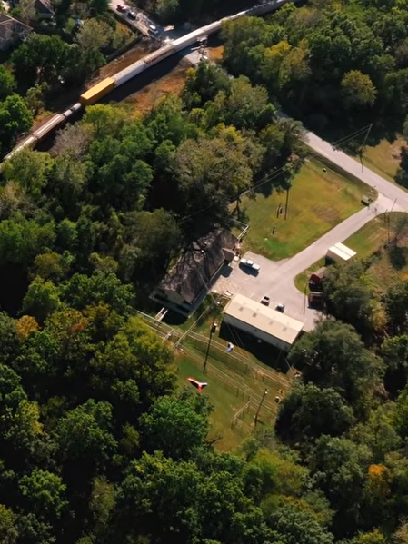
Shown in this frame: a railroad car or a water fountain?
railroad car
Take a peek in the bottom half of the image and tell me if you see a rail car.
No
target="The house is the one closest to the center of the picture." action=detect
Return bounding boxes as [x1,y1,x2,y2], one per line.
[138,233,251,335]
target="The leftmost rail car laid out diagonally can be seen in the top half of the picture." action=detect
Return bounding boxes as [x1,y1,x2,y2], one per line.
[2,136,36,166]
